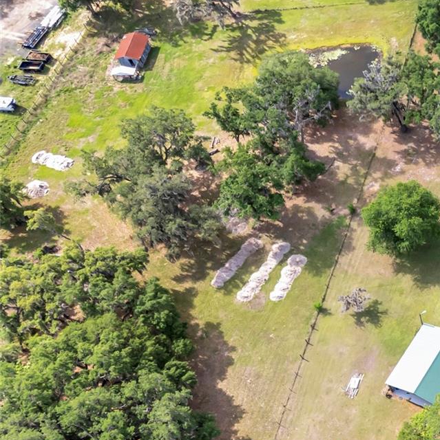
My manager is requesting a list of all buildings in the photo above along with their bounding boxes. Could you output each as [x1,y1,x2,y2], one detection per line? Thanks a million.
[112,29,154,74]
[385,325,440,415]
